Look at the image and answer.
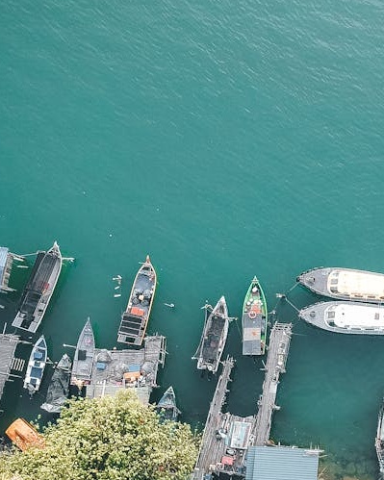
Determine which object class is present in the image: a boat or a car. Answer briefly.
boat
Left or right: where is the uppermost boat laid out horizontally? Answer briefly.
right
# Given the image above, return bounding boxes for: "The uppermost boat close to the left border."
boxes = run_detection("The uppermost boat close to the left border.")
[15,239,59,332]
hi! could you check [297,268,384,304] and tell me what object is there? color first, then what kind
white boat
